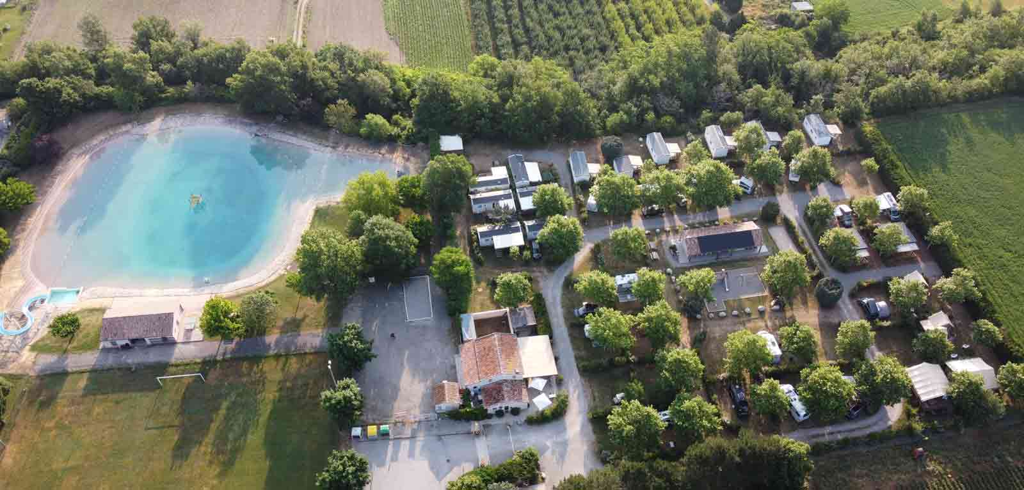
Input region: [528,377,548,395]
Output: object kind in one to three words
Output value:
umbrella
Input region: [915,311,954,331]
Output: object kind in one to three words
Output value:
tent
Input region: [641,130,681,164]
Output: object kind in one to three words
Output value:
house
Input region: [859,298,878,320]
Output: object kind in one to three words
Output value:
car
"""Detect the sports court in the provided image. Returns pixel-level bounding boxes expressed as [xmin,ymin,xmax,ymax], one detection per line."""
[705,267,767,312]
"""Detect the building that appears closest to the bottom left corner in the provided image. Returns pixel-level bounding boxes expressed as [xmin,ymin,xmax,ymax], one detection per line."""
[92,299,187,355]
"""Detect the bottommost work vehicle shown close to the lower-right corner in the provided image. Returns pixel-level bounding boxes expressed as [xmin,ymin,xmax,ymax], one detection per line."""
[911,445,931,462]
